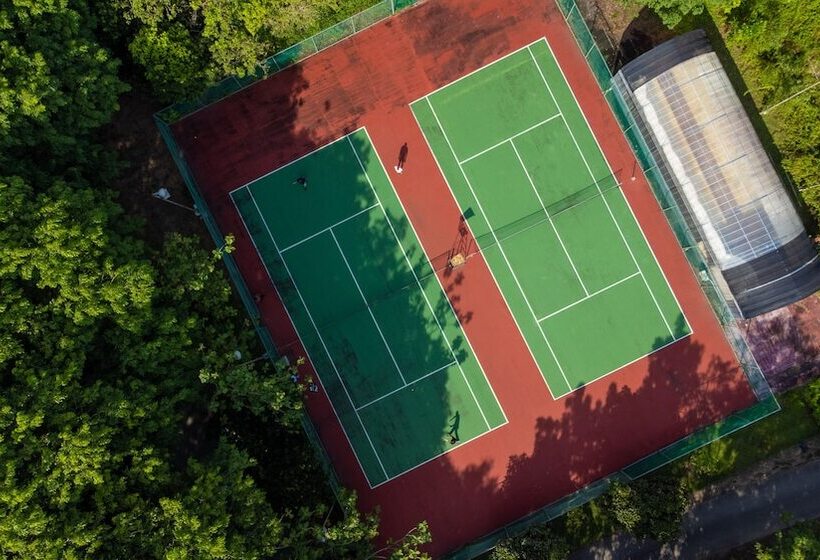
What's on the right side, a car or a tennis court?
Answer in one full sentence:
What appears on the right side is a tennis court.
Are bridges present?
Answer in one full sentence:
No, there isn't any bridge down there.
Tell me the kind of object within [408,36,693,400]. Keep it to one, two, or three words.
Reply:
tennis court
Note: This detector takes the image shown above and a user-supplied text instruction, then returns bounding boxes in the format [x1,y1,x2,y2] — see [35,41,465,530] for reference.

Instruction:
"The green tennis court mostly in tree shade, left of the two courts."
[229,126,509,489]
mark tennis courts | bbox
[229,126,509,489]
[408,36,693,400]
